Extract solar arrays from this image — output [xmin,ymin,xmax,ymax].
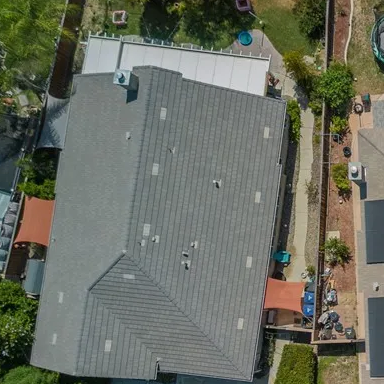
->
[367,298,384,377]
[364,199,384,263]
